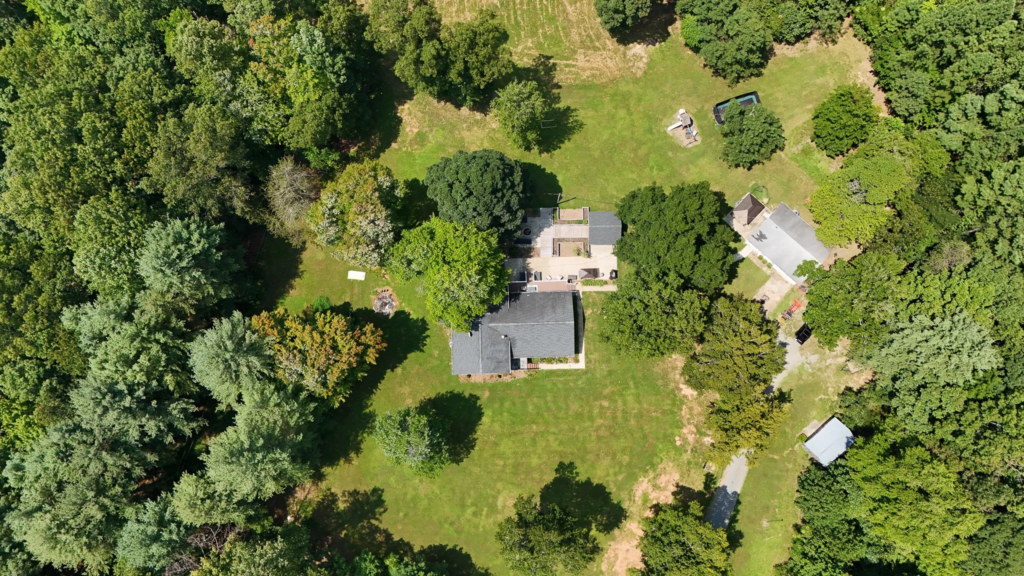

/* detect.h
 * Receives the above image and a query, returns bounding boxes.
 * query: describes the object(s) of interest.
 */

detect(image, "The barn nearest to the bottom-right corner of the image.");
[799,415,855,468]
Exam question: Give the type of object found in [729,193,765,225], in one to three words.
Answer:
gazebo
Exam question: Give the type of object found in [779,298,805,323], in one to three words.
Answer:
work vehicle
